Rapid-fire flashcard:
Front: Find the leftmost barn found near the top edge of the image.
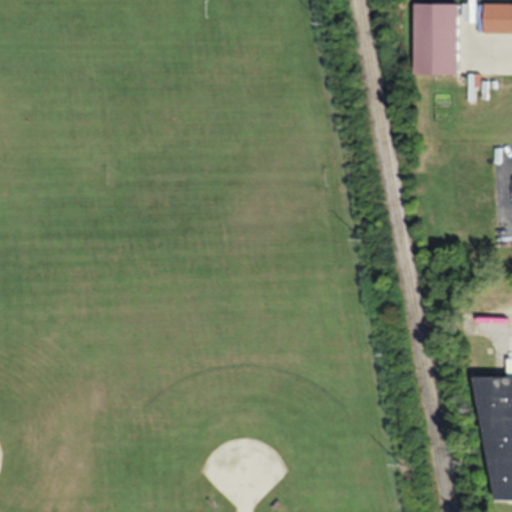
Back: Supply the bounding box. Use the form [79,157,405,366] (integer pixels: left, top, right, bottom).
[414,2,458,76]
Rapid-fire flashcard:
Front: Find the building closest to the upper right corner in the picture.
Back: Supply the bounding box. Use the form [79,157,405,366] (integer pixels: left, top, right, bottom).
[482,4,512,34]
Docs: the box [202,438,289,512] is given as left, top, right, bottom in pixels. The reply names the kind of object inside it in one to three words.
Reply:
baseball field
